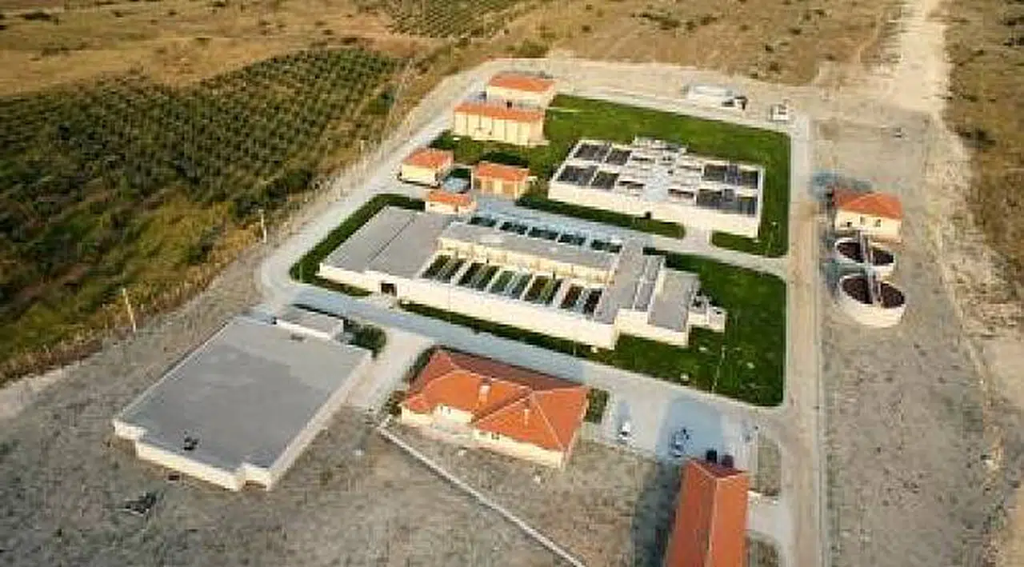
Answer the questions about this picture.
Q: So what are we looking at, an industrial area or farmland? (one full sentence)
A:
This image shows an industrial area.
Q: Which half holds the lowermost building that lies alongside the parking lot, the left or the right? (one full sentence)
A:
The lowermost building that lies alongside the parking lot sits on the right side.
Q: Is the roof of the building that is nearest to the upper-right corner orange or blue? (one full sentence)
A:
The roof of the building that is nearest to the upper-right corner is orange.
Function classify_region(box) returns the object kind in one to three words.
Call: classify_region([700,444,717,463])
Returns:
car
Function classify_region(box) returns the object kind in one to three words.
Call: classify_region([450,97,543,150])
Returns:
building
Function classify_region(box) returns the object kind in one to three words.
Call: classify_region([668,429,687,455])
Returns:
car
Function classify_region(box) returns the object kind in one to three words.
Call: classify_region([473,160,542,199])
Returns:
house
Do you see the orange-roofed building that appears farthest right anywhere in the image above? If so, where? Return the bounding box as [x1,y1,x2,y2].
[830,188,904,241]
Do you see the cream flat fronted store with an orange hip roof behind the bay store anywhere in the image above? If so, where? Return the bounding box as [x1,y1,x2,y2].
[488,73,553,108]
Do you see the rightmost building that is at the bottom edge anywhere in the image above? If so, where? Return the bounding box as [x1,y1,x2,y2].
[659,454,752,567]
